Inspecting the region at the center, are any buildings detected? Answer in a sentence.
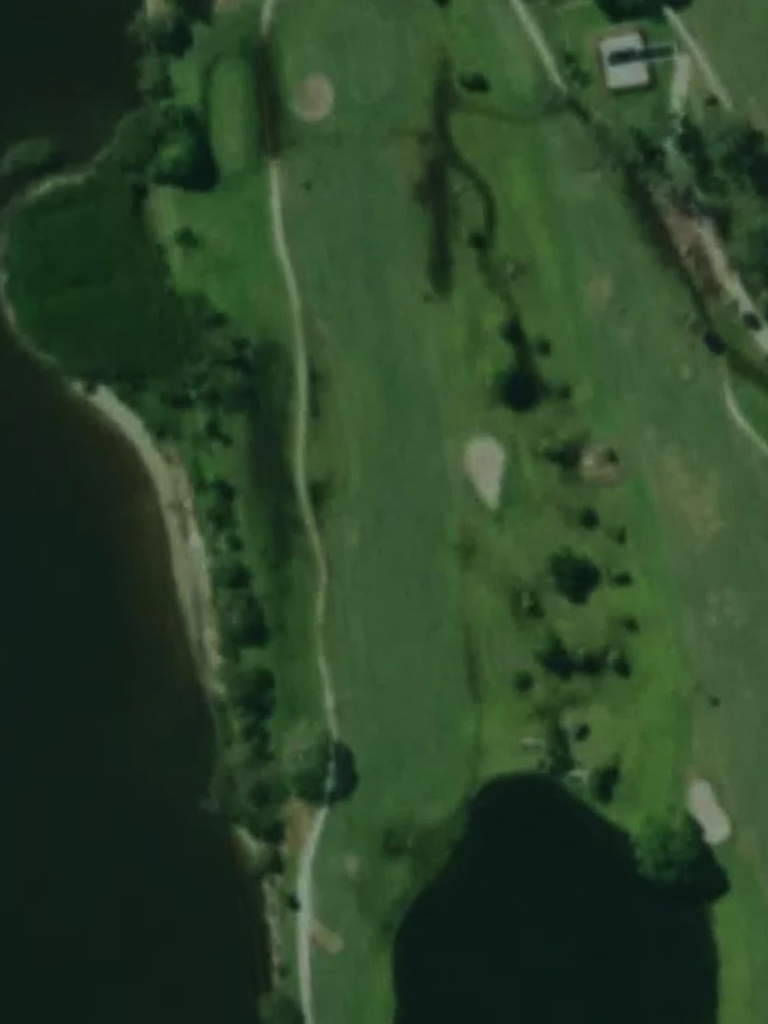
No, at the center there is no building.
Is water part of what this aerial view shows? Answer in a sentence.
Yes, some water is visible.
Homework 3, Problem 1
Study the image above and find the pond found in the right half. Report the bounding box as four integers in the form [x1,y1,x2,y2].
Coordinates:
[392,774,720,1024]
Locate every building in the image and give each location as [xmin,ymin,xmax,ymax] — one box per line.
[600,33,648,87]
